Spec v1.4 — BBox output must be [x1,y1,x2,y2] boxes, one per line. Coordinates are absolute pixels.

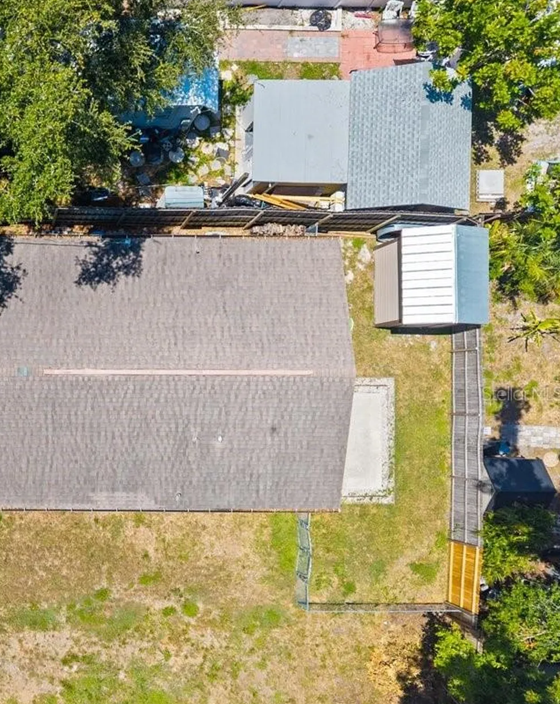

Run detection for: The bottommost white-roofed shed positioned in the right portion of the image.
[375,223,489,327]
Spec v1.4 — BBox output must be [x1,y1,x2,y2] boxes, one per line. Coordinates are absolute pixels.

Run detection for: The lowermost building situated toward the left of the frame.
[0,233,356,515]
